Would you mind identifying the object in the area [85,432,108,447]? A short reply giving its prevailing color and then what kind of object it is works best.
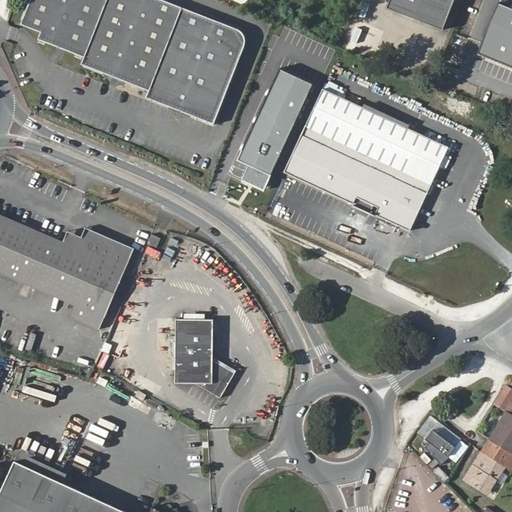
white vehicle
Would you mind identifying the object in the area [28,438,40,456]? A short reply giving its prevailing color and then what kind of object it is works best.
white vehicle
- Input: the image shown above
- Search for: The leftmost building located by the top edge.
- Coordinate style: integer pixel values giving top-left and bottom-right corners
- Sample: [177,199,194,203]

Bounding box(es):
[21,0,108,58]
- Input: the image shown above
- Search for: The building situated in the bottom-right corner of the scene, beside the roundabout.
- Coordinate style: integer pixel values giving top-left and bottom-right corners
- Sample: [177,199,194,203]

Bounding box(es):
[418,416,468,465]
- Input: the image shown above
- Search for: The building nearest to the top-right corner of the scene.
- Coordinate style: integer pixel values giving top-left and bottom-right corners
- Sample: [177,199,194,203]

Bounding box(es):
[478,3,512,70]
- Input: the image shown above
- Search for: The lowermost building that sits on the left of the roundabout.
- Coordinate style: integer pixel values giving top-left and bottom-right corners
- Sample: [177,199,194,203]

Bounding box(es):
[0,460,127,512]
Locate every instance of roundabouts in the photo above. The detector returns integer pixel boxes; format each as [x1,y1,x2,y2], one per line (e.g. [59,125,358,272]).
[281,372,395,486]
